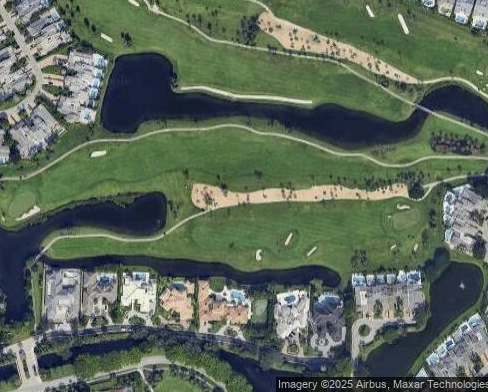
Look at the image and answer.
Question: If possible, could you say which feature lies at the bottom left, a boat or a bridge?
bridge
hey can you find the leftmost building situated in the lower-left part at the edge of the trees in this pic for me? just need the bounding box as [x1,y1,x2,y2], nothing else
[47,269,81,321]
